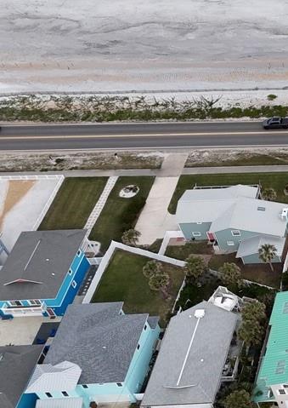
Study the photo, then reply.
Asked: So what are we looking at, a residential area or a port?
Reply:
residential area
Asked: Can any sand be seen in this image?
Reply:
Yes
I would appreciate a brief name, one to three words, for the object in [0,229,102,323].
house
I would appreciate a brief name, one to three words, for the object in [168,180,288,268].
house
